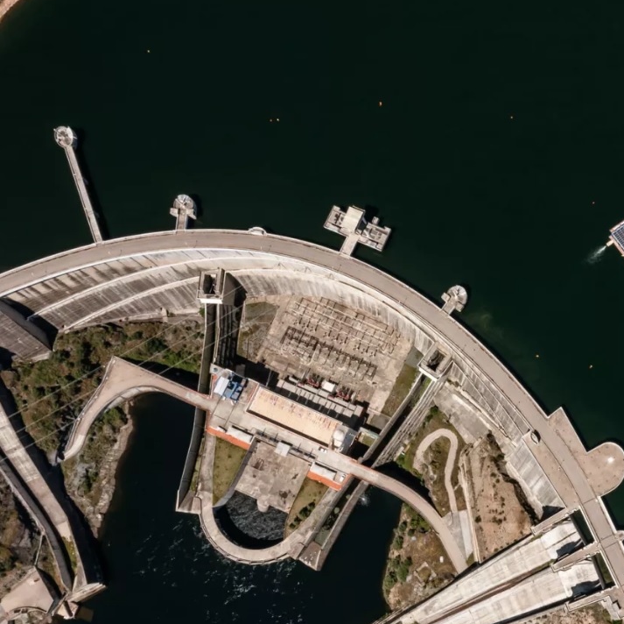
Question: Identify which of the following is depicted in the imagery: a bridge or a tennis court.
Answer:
bridge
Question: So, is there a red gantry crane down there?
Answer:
No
